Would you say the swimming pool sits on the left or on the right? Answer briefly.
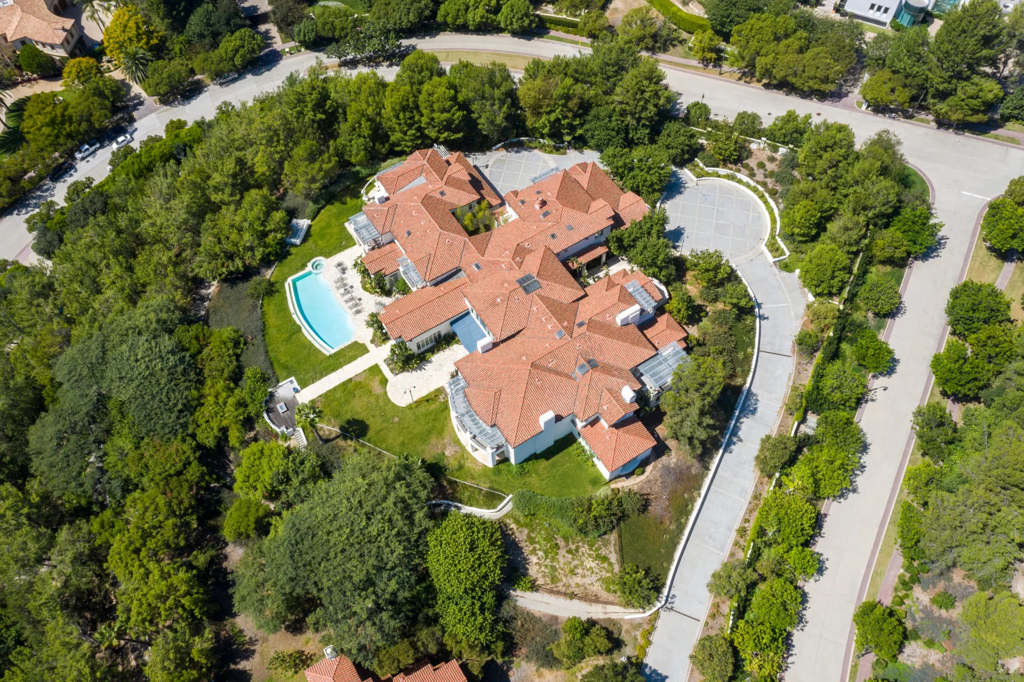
left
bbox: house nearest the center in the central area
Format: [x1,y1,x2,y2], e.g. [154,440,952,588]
[348,137,693,476]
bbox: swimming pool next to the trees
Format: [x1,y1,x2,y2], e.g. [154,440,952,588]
[281,259,359,357]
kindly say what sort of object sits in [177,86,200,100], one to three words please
car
